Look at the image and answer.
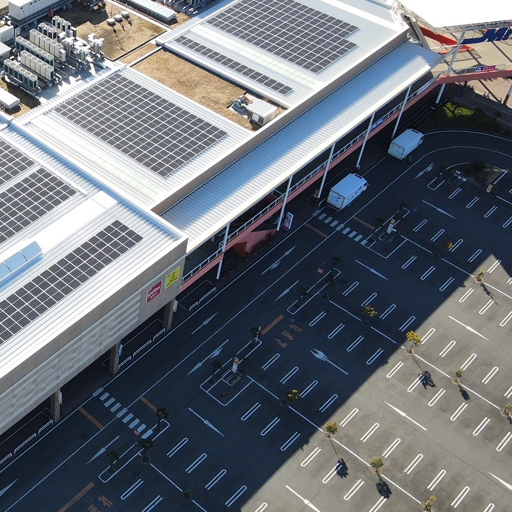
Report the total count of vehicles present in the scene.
2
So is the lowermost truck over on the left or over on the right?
right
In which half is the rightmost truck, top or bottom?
top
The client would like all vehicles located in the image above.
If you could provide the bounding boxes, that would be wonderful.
[390,120,430,156]
[330,168,374,207]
